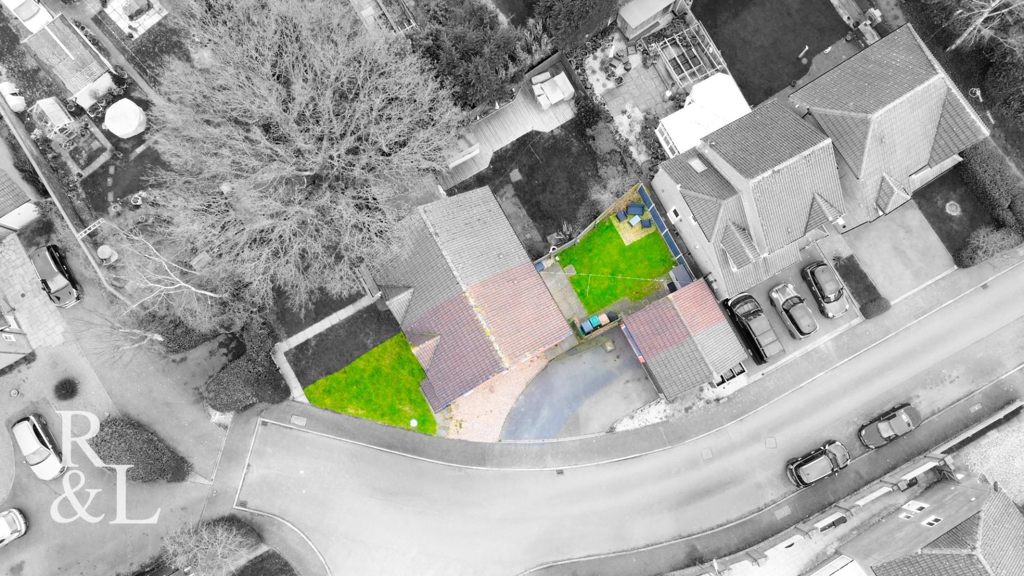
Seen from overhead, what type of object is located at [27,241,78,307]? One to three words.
car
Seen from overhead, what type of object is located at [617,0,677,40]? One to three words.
shed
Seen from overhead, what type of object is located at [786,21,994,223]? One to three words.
house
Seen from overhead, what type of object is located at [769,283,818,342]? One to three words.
car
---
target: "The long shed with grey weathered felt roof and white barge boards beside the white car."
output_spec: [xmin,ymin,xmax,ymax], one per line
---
[21,12,123,103]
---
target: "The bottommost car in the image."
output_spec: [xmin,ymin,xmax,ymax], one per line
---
[0,507,28,543]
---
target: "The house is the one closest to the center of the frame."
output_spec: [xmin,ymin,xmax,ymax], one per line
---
[354,186,574,414]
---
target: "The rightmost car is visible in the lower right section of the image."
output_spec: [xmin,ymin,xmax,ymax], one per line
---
[858,404,931,453]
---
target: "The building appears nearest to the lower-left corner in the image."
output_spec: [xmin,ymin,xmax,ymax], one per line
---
[0,291,32,368]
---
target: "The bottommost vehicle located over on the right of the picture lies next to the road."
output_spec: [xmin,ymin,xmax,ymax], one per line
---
[786,442,853,492]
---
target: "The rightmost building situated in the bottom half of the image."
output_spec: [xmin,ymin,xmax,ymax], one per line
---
[837,462,1024,576]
